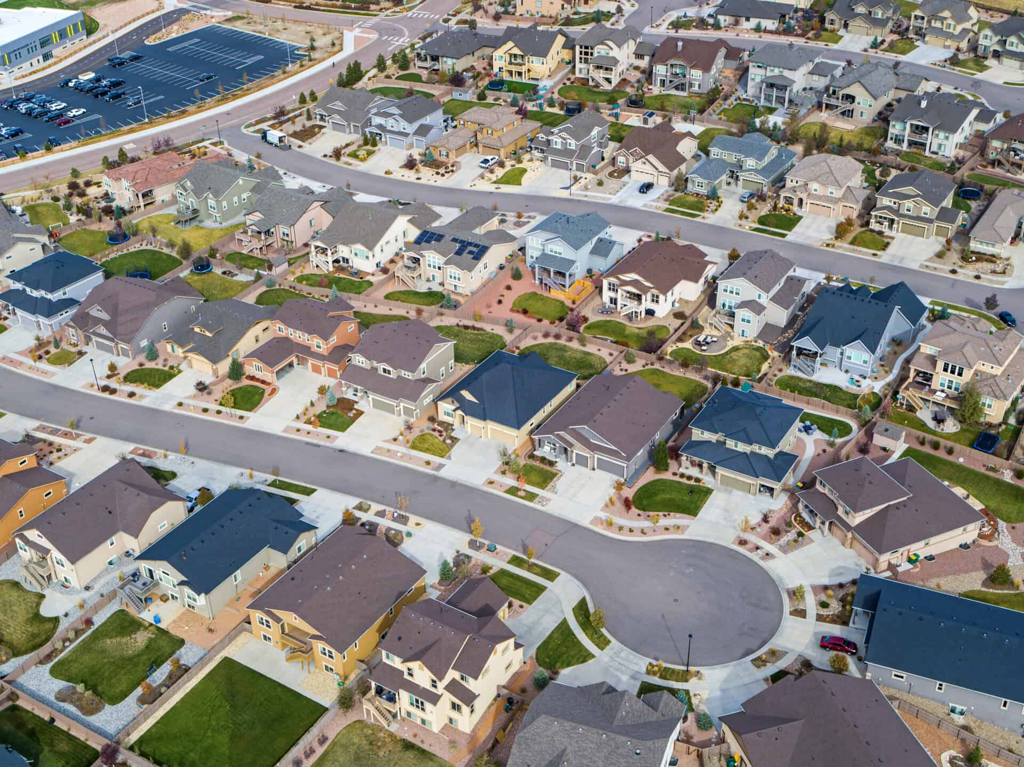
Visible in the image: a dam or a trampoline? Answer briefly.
trampoline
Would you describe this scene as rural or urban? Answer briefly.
urban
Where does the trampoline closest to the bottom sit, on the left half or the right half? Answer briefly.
right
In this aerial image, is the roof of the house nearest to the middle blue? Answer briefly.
Yes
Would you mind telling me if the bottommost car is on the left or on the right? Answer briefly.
right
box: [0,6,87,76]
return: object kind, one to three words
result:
building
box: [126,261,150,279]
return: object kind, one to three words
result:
trampoline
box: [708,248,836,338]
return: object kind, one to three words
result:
house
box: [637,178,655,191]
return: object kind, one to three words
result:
vehicle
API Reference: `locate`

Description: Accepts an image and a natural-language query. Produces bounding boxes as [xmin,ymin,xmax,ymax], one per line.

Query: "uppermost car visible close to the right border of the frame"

[996,306,1020,325]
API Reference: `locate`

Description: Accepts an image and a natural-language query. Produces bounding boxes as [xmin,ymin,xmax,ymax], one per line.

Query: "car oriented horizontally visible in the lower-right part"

[820,636,858,656]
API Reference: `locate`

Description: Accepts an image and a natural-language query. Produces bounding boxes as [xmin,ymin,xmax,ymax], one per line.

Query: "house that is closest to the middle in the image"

[435,350,581,445]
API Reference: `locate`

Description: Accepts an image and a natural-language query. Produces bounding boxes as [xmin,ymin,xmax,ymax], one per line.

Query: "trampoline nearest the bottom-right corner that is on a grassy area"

[966,432,1009,454]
